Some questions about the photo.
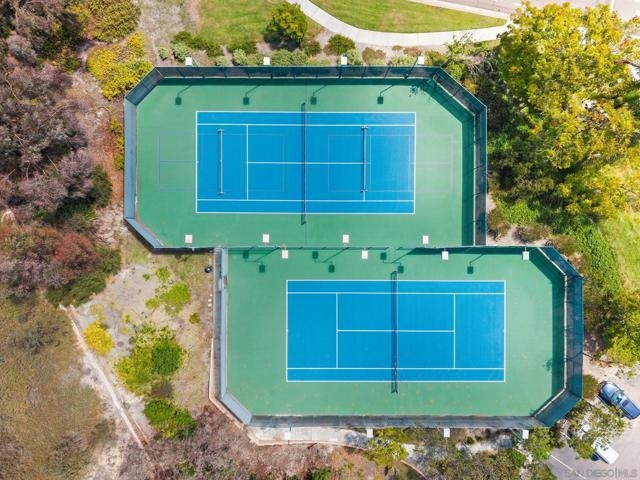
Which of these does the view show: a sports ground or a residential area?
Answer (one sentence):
This image shows a sports ground.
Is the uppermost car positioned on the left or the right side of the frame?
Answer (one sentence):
You can find the uppermost car on the right side of the picture.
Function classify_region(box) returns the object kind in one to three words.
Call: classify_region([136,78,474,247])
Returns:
tennis court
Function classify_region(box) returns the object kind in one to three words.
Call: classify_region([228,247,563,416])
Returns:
tennis court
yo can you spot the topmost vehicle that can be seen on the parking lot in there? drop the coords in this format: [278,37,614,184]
[598,378,640,420]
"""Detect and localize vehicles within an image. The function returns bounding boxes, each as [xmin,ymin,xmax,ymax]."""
[598,378,640,420]
[574,424,621,466]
